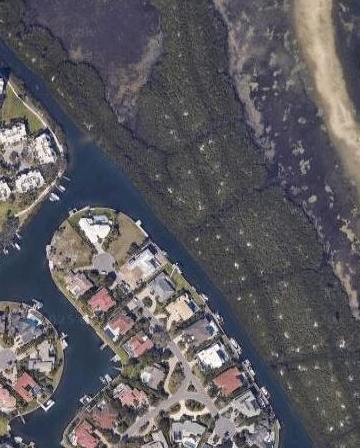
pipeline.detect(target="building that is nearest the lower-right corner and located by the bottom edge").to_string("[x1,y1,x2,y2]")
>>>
[246,418,272,448]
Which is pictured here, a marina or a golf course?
marina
